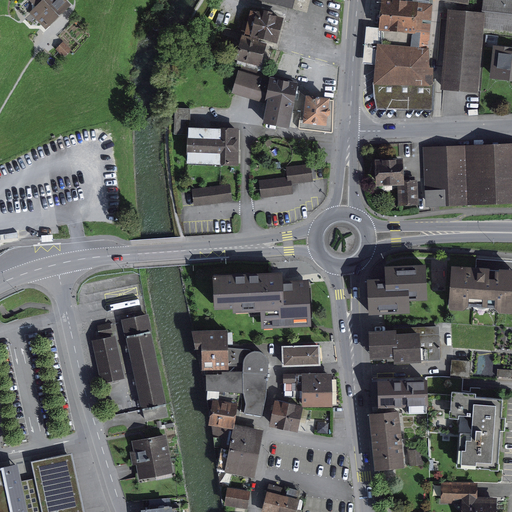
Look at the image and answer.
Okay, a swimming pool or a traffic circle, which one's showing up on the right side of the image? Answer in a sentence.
You can see a traffic circle on the right side of the image.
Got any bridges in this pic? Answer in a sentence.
Yes, there is a bridge in the image.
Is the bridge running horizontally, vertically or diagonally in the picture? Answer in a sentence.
Seen from above, the bridge lies horizontally.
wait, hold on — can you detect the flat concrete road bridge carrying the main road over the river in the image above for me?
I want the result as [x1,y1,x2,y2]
[129,236,190,269]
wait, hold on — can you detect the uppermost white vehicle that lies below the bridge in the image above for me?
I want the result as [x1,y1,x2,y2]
[110,299,140,311]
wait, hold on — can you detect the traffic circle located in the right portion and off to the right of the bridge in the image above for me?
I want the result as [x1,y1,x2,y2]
[308,206,377,274]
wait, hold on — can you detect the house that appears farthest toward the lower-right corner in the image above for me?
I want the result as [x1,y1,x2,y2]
[439,482,497,512]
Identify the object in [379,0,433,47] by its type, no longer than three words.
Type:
house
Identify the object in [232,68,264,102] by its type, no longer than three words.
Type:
barn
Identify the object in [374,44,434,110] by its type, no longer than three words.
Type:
building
